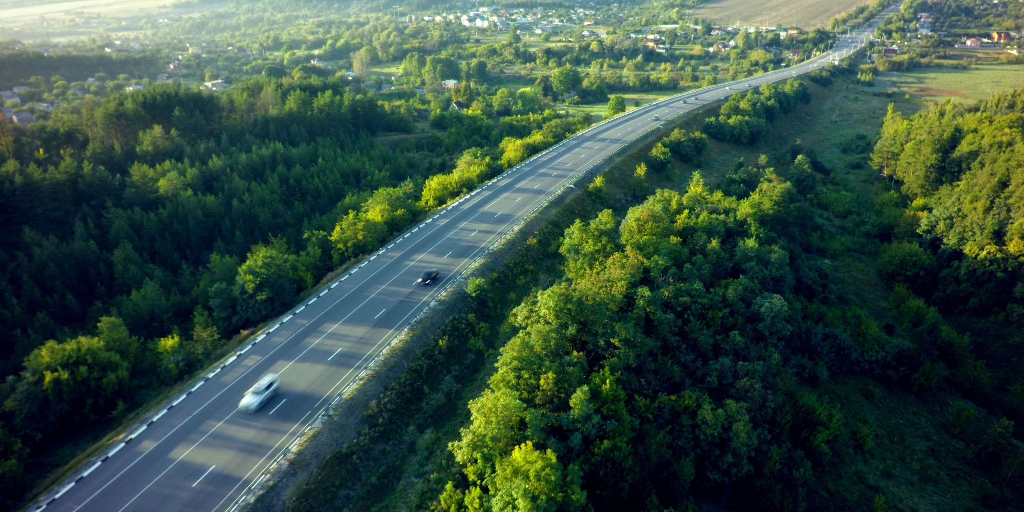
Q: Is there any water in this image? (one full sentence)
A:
No, the picture contains no water.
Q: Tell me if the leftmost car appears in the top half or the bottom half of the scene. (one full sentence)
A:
It is in the bottom half that the leftmost car appears.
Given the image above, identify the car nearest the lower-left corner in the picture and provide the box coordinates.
[241,376,281,410]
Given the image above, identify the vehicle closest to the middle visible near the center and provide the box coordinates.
[417,266,439,284]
